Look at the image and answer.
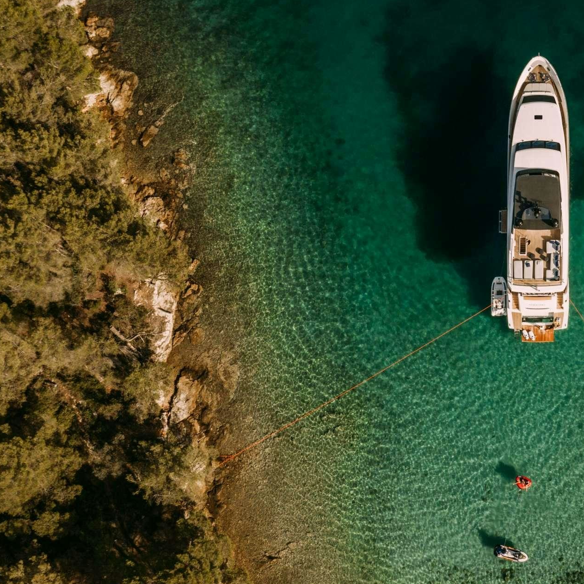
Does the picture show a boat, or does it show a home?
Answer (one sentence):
This aerial view contains a boat.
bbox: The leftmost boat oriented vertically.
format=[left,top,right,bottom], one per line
[490,277,507,316]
